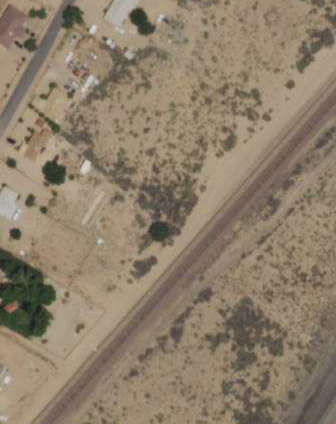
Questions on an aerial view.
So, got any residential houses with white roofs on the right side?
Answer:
No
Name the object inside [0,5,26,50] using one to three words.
house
